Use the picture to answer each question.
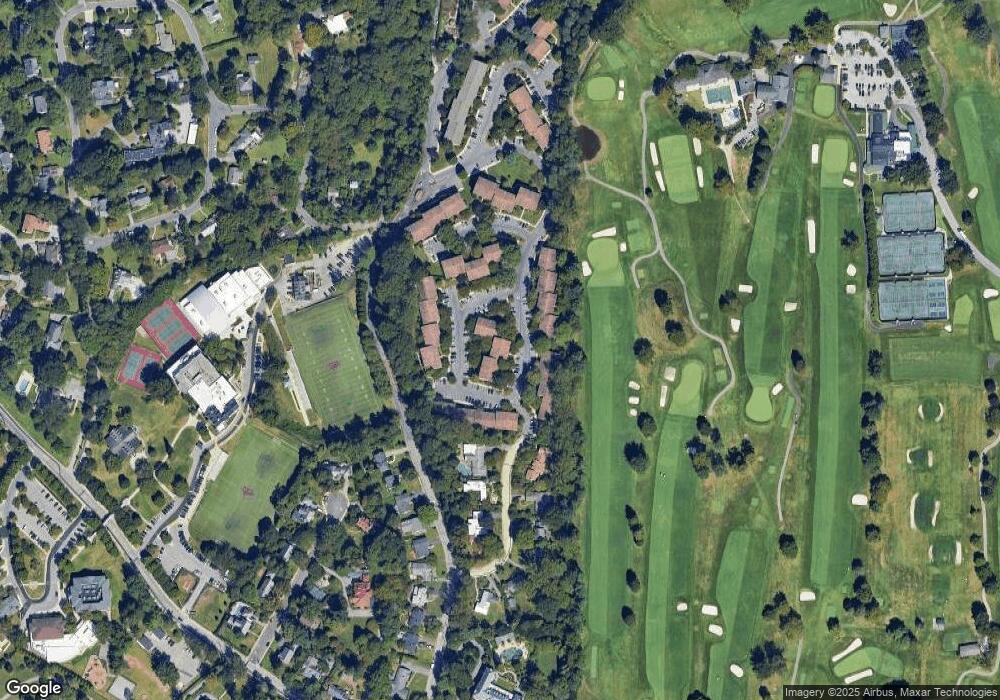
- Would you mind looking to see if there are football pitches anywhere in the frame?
Yes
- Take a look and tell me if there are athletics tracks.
No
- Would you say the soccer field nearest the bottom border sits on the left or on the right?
left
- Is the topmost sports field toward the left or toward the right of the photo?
left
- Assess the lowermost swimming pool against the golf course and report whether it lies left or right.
to its left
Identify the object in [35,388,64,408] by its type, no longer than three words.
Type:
house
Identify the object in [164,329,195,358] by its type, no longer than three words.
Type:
tennis court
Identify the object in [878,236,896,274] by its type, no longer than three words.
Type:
tennis court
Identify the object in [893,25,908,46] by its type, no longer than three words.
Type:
shed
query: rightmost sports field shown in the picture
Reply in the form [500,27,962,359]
[285,294,384,432]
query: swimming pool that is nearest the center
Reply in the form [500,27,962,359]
[458,455,474,476]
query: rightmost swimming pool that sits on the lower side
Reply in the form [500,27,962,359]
[497,641,528,664]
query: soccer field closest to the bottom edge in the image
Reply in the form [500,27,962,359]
[191,423,300,551]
